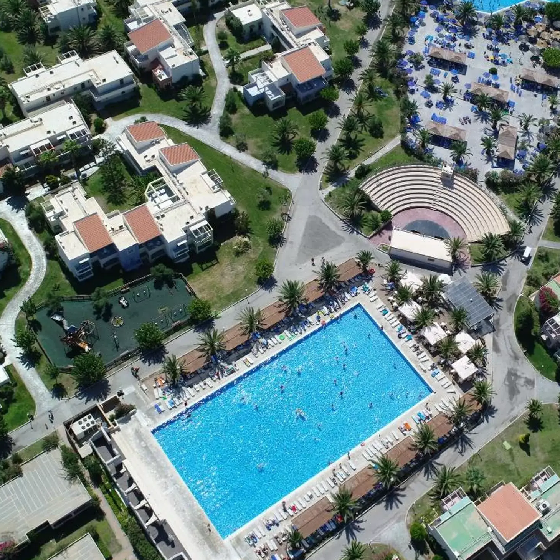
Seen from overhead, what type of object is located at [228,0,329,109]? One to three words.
house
